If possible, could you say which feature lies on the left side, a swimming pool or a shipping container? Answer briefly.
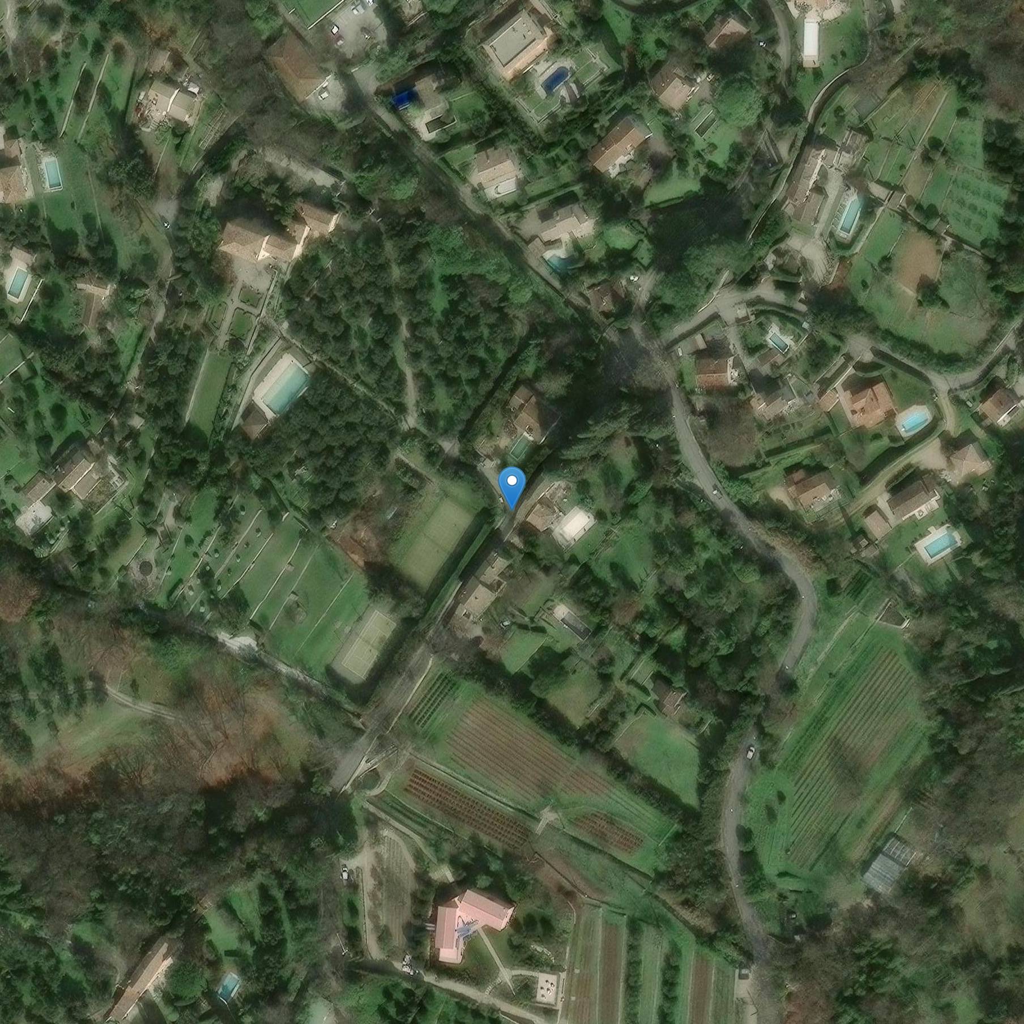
swimming pool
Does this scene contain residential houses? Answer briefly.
Yes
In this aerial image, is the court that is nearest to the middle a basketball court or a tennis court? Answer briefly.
tennis court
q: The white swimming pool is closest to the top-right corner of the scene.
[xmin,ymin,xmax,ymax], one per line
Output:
[803,17,820,67]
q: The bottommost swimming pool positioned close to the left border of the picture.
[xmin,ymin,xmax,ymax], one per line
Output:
[3,260,35,302]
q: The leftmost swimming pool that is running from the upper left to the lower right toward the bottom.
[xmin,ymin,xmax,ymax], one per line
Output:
[553,604,594,640]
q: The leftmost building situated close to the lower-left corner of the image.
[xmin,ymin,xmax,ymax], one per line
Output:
[105,940,173,1024]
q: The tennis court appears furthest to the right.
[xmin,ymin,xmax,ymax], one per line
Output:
[394,489,478,592]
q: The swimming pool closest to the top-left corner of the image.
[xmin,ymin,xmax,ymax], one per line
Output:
[36,145,63,191]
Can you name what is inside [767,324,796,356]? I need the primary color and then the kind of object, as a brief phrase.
white swimming pool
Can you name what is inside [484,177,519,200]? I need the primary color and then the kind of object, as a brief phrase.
white swimming pool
